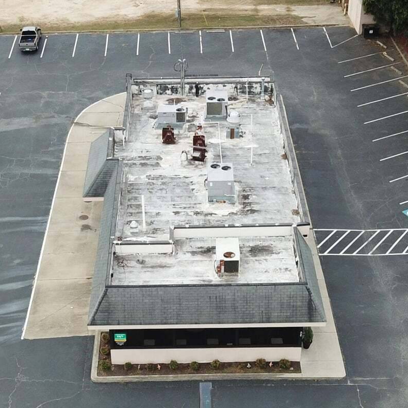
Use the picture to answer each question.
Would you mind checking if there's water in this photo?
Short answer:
No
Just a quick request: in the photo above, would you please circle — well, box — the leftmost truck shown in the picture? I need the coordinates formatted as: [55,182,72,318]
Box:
[17,21,47,47]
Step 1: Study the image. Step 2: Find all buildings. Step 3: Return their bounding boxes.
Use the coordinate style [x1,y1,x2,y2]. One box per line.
[82,57,327,364]
[348,0,377,34]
